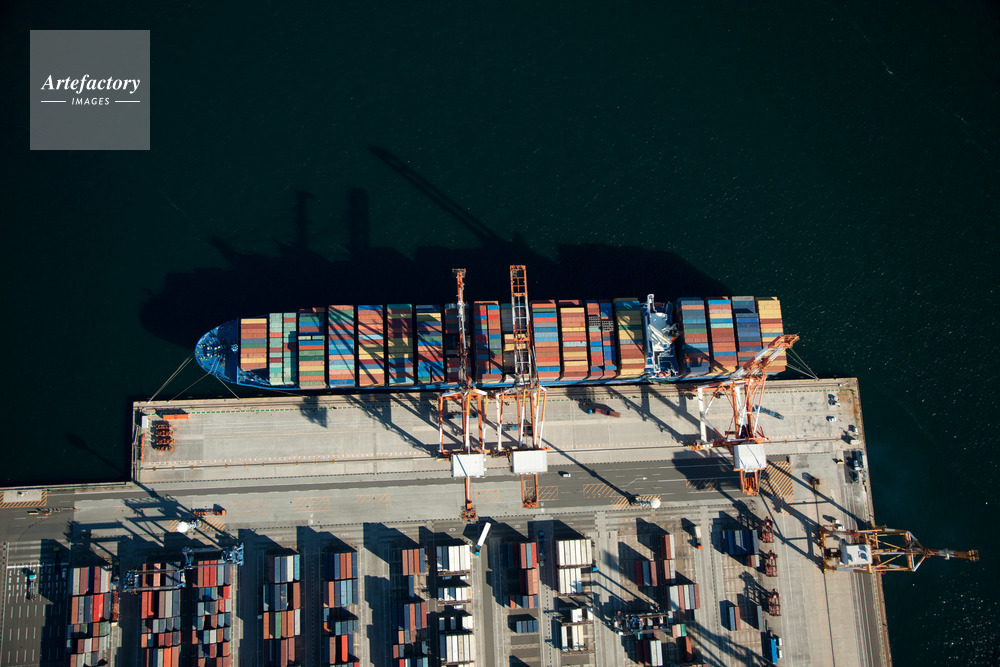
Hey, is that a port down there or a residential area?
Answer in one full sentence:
The area seen from above is a port.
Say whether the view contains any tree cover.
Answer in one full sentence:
No, the scene doesn't show any tree cover.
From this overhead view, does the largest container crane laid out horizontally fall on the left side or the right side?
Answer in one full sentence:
The largest container crane laid out horizontally sits on the right side.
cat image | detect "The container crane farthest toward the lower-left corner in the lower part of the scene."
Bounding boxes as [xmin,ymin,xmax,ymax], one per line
[125,561,194,593]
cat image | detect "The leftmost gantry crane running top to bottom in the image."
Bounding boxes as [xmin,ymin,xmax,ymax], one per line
[428,266,493,520]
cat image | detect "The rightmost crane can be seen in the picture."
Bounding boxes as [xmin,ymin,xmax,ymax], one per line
[822,522,983,581]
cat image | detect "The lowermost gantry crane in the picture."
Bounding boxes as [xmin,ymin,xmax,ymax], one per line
[600,604,671,637]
